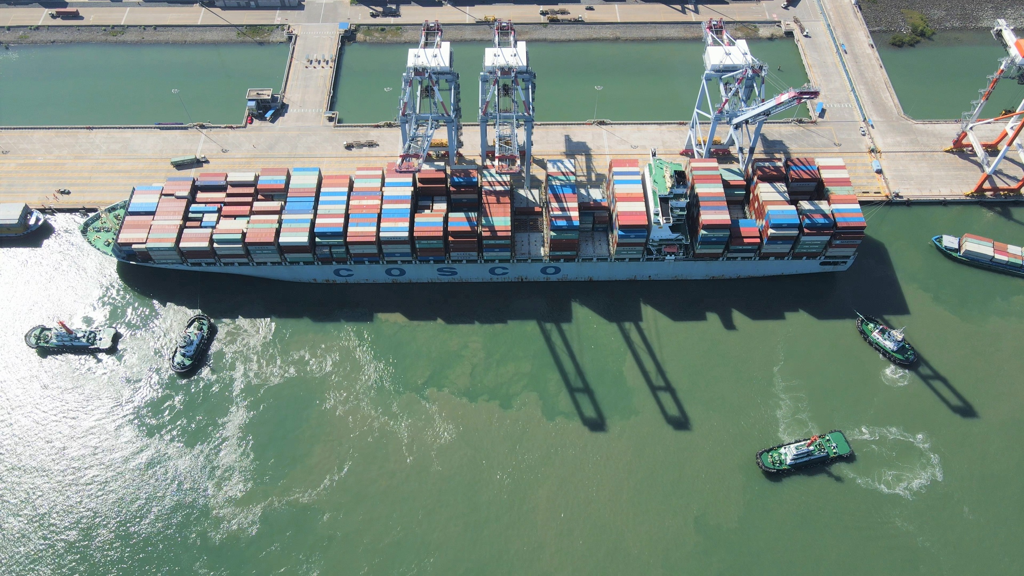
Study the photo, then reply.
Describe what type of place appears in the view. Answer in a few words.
port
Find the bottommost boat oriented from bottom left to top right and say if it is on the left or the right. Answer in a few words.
left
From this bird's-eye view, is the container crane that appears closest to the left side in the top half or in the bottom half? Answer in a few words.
top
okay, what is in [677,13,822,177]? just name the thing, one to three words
container crane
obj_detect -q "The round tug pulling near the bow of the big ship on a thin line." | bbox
[169,312,215,372]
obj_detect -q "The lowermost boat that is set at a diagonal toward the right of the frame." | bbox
[855,314,918,366]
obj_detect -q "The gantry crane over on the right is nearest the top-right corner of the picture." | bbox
[941,13,1024,195]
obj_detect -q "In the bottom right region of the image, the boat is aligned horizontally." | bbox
[755,423,857,471]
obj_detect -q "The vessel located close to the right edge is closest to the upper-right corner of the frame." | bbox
[923,230,1024,278]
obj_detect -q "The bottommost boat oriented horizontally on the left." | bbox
[22,306,122,352]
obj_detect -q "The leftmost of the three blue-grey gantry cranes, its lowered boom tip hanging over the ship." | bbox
[395,15,472,171]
